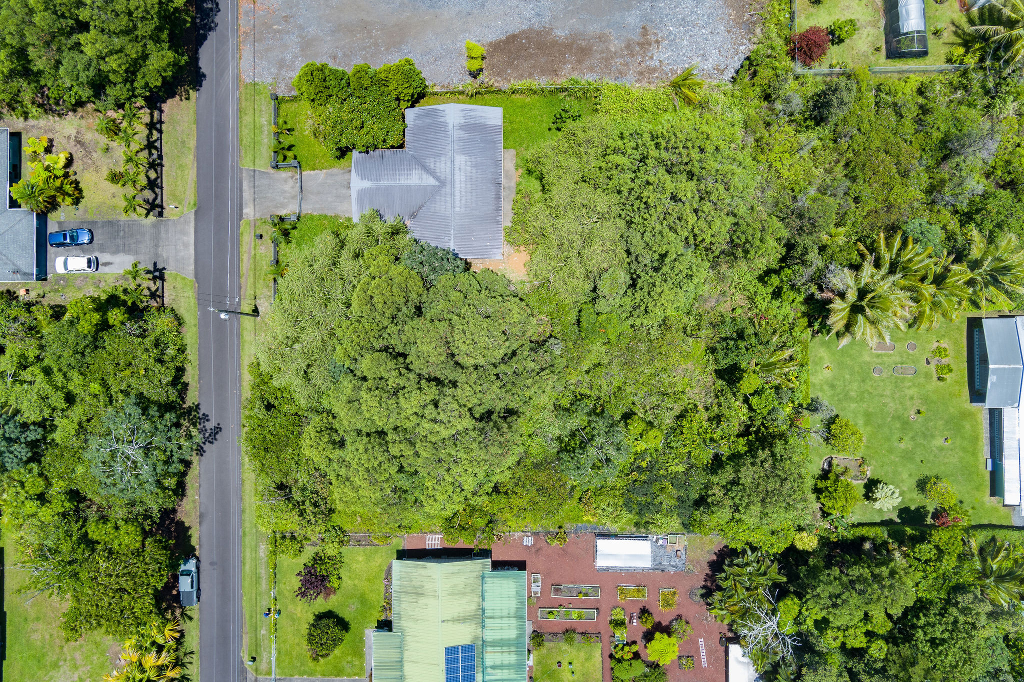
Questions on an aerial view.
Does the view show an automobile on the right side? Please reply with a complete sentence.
No, no automobile appears on the right side.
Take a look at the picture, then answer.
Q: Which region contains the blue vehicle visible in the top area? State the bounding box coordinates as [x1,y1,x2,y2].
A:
[48,226,96,249]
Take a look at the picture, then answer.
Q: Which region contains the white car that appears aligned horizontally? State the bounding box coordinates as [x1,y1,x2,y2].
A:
[57,254,101,274]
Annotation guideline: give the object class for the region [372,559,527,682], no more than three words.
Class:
house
